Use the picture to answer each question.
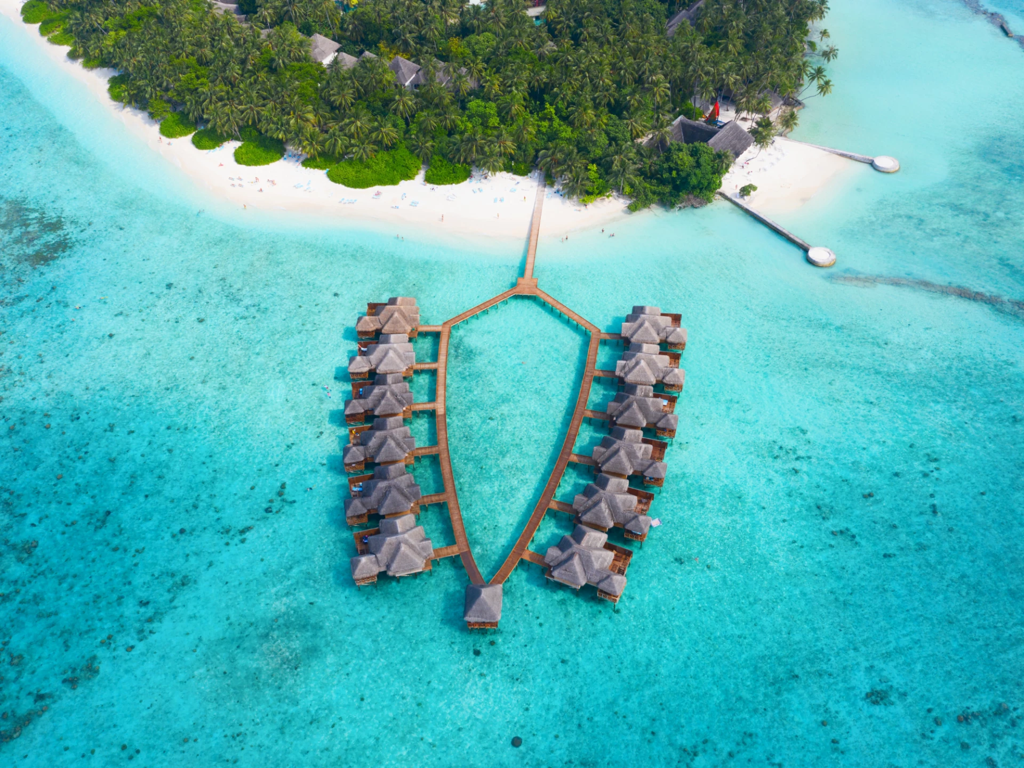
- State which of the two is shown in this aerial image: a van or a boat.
boat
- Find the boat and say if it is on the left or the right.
right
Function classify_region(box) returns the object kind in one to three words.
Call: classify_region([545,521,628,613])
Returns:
house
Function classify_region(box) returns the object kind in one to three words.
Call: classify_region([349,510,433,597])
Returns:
house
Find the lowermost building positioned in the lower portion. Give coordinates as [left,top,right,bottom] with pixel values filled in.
[463,584,504,636]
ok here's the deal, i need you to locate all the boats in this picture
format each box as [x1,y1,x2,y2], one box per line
[706,94,730,124]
